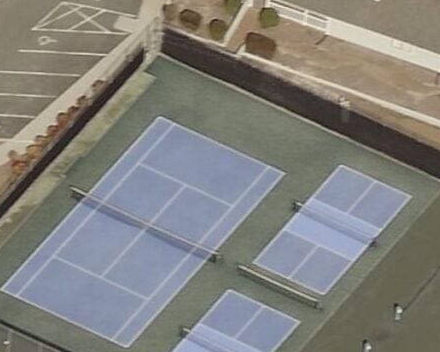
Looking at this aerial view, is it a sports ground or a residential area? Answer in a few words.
sports ground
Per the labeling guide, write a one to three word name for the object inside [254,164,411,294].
sports court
